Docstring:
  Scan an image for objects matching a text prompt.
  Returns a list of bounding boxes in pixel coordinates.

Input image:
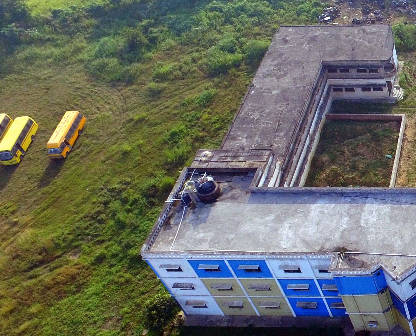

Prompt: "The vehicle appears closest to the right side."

[36,112,85,158]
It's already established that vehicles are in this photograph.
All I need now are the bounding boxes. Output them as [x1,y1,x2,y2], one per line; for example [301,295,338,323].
[0,112,20,139]
[36,112,85,158]
[0,117,43,165]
